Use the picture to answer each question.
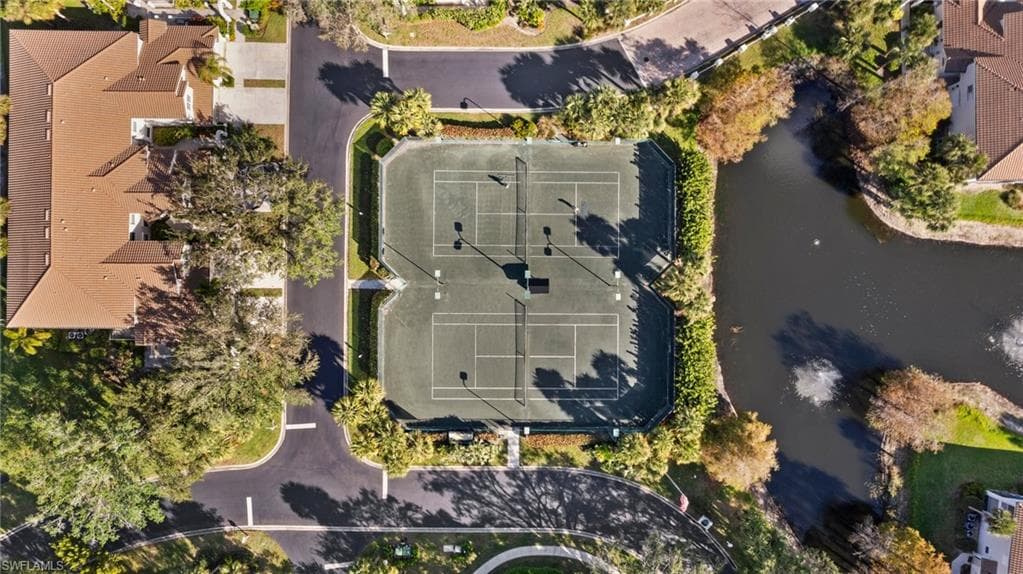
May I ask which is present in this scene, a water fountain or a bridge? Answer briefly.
water fountain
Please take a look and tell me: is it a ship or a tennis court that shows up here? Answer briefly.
tennis court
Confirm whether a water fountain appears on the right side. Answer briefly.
Yes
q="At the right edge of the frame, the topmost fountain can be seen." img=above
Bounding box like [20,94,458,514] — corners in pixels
[985,315,1023,372]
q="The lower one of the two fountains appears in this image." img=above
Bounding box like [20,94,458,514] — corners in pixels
[783,348,848,414]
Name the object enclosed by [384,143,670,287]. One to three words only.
tennis court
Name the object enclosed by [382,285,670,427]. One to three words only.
tennis court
